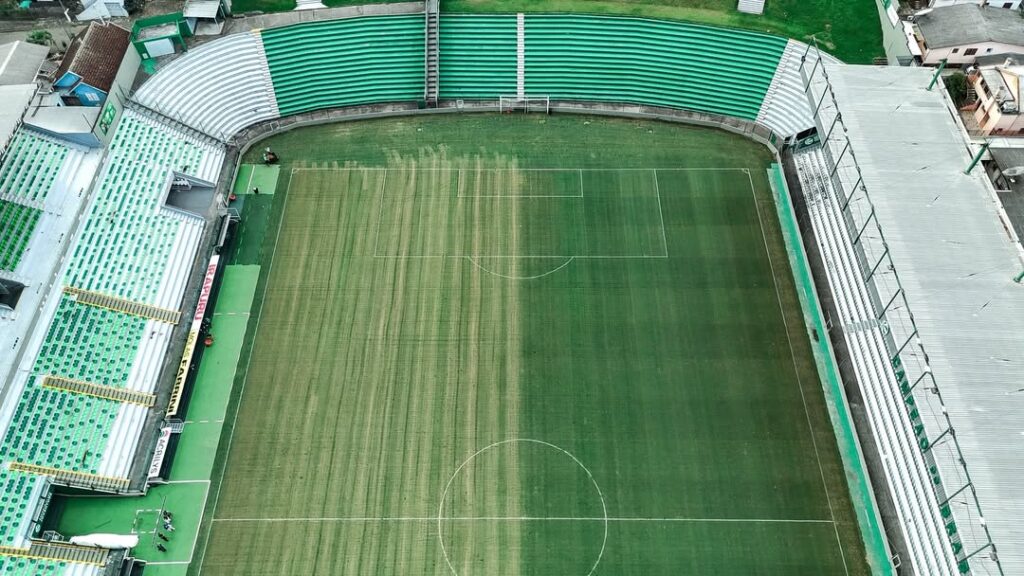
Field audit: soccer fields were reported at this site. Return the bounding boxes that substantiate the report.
[185,111,872,576]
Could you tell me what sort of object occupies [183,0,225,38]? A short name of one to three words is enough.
shed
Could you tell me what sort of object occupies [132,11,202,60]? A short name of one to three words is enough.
building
